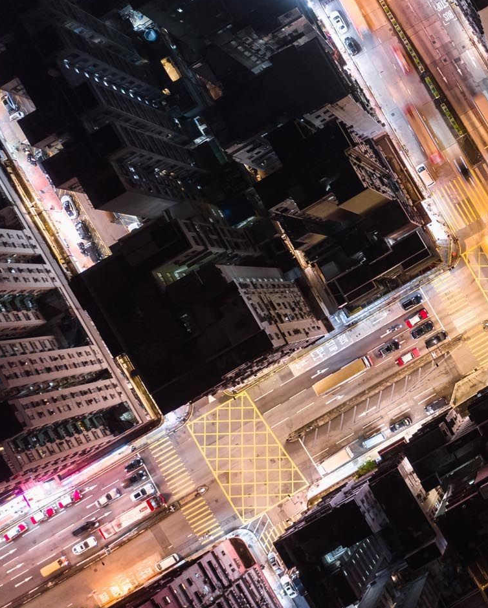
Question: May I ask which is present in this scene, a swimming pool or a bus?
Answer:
bus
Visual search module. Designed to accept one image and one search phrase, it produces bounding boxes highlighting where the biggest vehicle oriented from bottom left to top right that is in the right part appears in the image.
[312,352,377,397]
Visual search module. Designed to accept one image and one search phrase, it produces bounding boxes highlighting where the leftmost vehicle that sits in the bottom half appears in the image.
[4,521,29,540]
